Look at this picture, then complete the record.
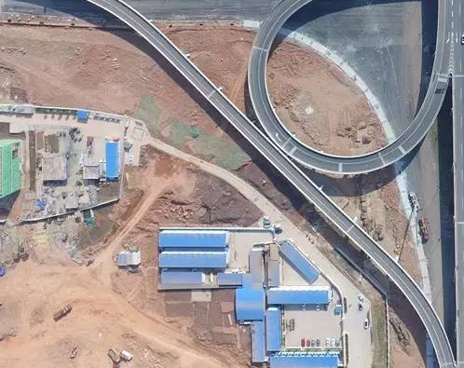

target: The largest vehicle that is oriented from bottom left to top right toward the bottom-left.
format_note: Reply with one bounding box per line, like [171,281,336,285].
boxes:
[50,307,70,323]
